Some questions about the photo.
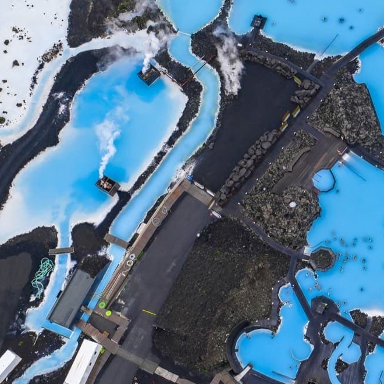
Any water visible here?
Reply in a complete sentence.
Yes, there is water in the image.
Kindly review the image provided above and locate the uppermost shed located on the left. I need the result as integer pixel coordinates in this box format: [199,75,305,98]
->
[47,268,99,331]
